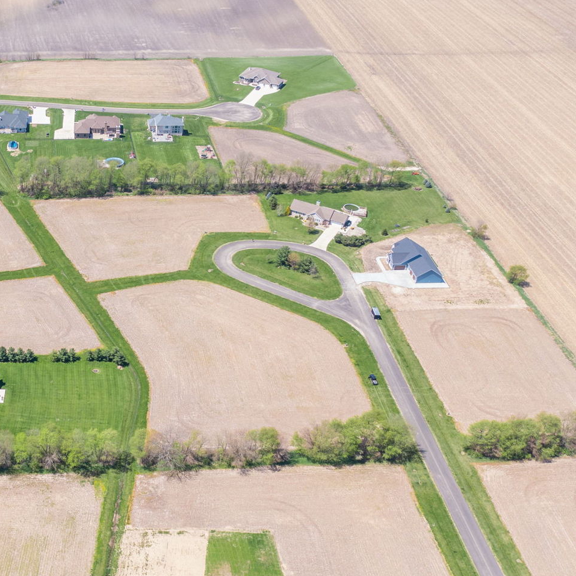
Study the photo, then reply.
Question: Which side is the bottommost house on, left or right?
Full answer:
It is on the right.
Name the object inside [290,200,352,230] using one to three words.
house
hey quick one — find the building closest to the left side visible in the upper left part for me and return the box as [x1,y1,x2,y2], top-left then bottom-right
[0,115,27,133]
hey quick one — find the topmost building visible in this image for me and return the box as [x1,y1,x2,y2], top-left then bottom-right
[239,64,285,88]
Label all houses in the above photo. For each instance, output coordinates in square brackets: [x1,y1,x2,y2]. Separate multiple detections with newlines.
[73,119,120,138]
[378,236,448,282]
[0,115,27,133]
[290,200,352,230]
[146,114,184,136]
[239,64,285,88]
